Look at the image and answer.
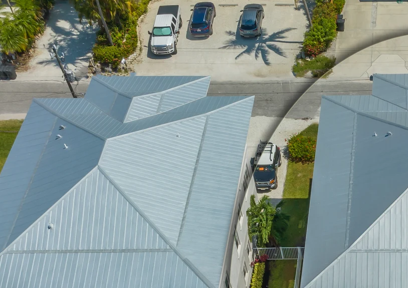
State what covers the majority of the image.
buildings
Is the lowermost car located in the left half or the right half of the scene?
right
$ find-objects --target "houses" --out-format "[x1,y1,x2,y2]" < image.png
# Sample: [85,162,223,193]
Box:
[0,74,262,288]
[300,73,408,288]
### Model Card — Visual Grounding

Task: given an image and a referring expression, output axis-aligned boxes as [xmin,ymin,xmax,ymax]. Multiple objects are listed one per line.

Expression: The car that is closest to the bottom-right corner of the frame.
[251,131,284,184]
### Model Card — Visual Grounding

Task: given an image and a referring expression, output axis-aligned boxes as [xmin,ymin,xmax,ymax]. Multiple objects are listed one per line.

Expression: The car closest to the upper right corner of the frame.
[238,1,262,33]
